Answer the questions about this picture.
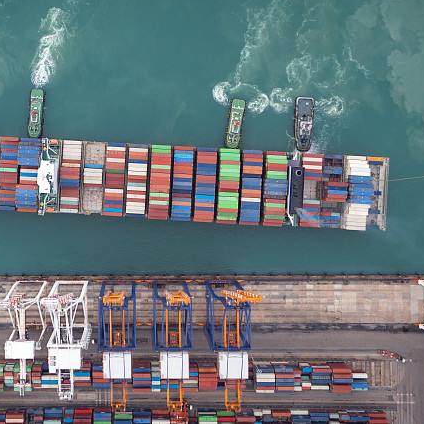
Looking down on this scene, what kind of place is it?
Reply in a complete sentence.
What you see here is a port.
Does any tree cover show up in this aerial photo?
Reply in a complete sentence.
No, there's no tree cover in this view.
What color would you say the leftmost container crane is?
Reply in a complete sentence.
The color of the leftmost container crane is white.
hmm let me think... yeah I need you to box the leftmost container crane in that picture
[0,280,53,400]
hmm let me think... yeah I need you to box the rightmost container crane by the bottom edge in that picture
[195,280,262,415]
